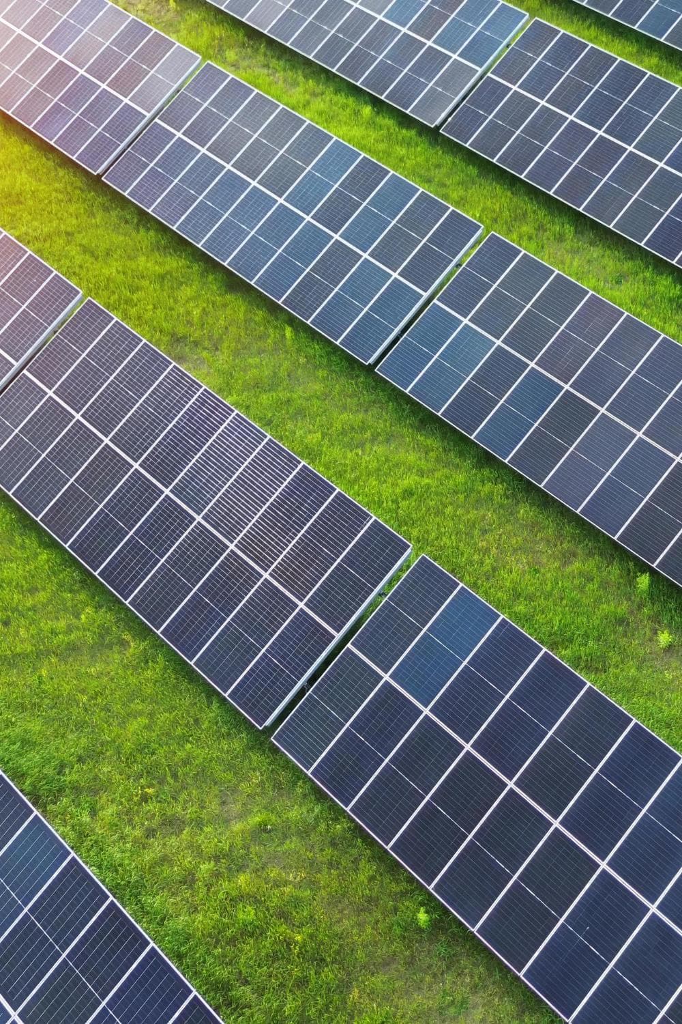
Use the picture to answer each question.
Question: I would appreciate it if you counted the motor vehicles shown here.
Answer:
0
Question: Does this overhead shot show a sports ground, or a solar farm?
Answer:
solar farm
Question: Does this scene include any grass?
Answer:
Yes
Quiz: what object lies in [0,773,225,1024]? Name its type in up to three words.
solar array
